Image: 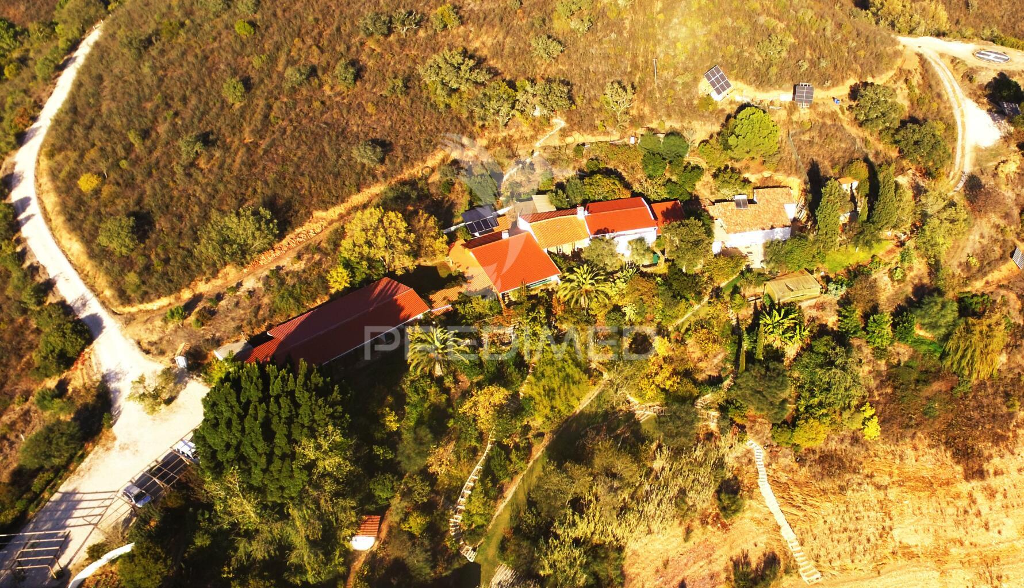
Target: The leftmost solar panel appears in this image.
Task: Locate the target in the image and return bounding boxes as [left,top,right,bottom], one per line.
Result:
[466,216,496,236]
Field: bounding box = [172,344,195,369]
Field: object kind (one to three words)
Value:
shed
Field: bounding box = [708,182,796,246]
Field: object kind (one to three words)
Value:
house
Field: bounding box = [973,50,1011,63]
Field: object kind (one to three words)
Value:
helipad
